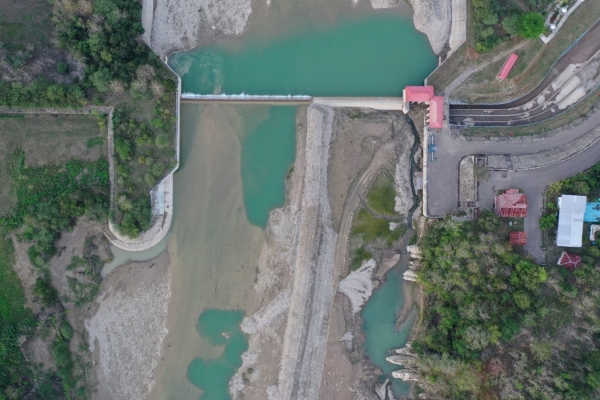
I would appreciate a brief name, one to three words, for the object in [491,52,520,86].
shed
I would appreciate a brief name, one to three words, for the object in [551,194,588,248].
building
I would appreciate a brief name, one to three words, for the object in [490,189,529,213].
house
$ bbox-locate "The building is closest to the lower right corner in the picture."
[555,249,584,269]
